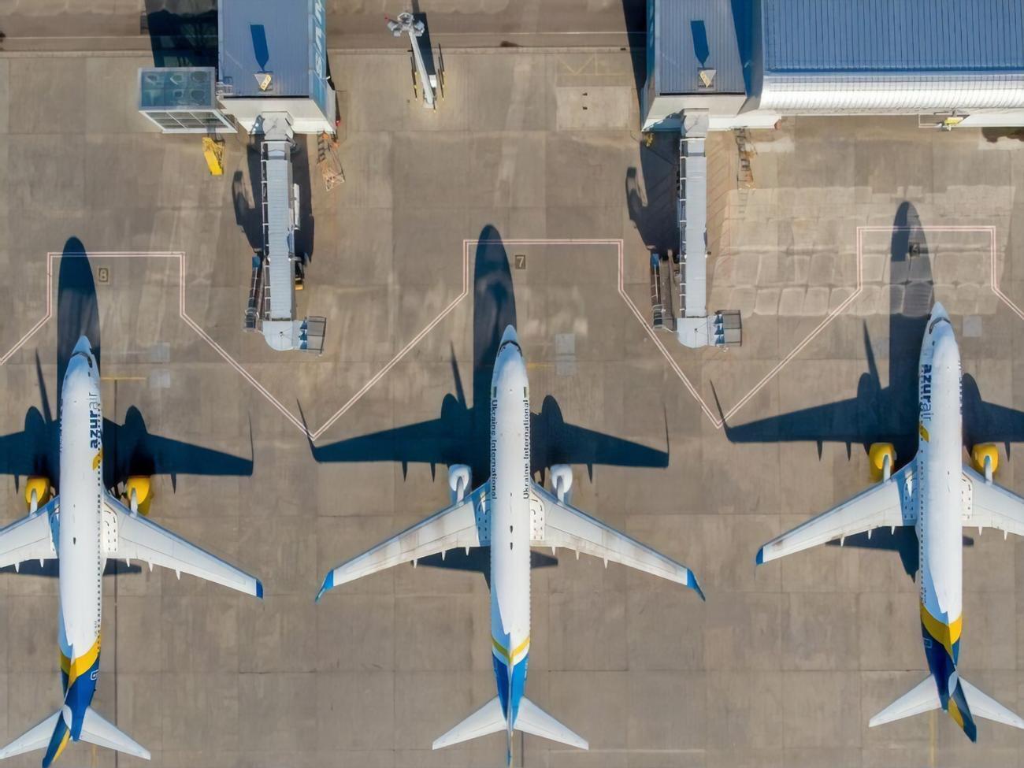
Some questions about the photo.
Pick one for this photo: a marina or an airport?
airport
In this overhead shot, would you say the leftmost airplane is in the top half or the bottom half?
bottom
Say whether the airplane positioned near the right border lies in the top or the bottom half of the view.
bottom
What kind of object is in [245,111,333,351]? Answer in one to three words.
jet bridge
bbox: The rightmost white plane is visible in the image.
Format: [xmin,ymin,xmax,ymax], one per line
[757,302,1024,743]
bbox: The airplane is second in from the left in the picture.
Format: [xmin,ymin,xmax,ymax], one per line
[315,325,707,761]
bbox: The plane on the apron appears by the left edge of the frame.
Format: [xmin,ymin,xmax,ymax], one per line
[0,336,266,768]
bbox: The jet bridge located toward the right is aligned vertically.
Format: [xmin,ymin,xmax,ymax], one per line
[648,110,743,349]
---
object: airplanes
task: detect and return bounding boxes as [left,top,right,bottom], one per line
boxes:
[757,302,1024,743]
[315,325,707,761]
[0,336,266,768]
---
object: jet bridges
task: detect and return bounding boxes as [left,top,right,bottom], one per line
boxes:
[648,110,743,349]
[245,111,333,351]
